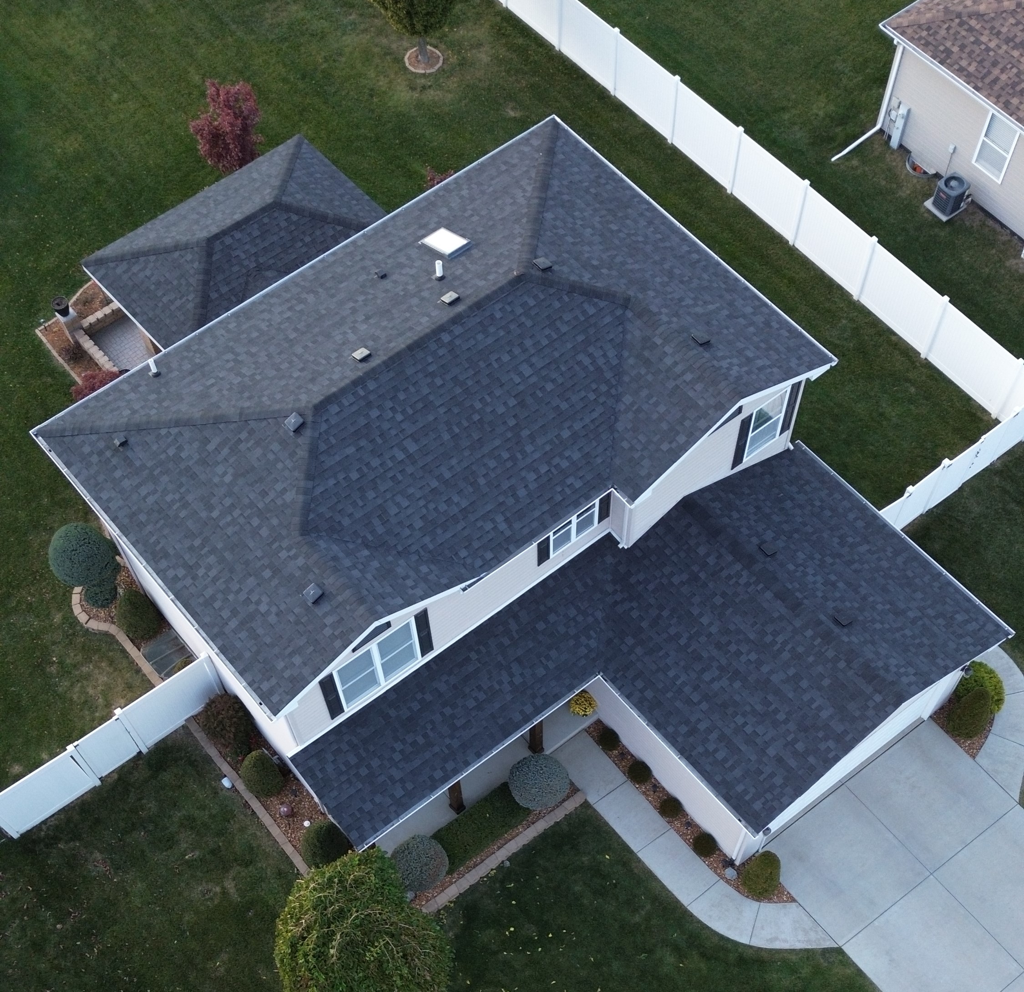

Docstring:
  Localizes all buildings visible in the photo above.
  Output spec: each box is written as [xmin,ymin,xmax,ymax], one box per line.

[30,115,1014,868]
[831,0,1024,265]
